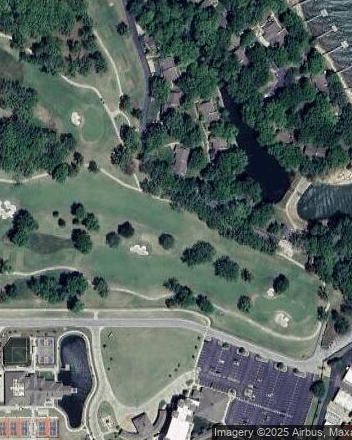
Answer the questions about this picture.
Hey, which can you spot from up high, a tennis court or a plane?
tennis court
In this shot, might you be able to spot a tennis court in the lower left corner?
Yes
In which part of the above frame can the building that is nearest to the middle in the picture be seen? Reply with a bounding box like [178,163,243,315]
[170,144,190,173]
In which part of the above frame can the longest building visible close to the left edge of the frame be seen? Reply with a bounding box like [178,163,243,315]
[4,372,70,408]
